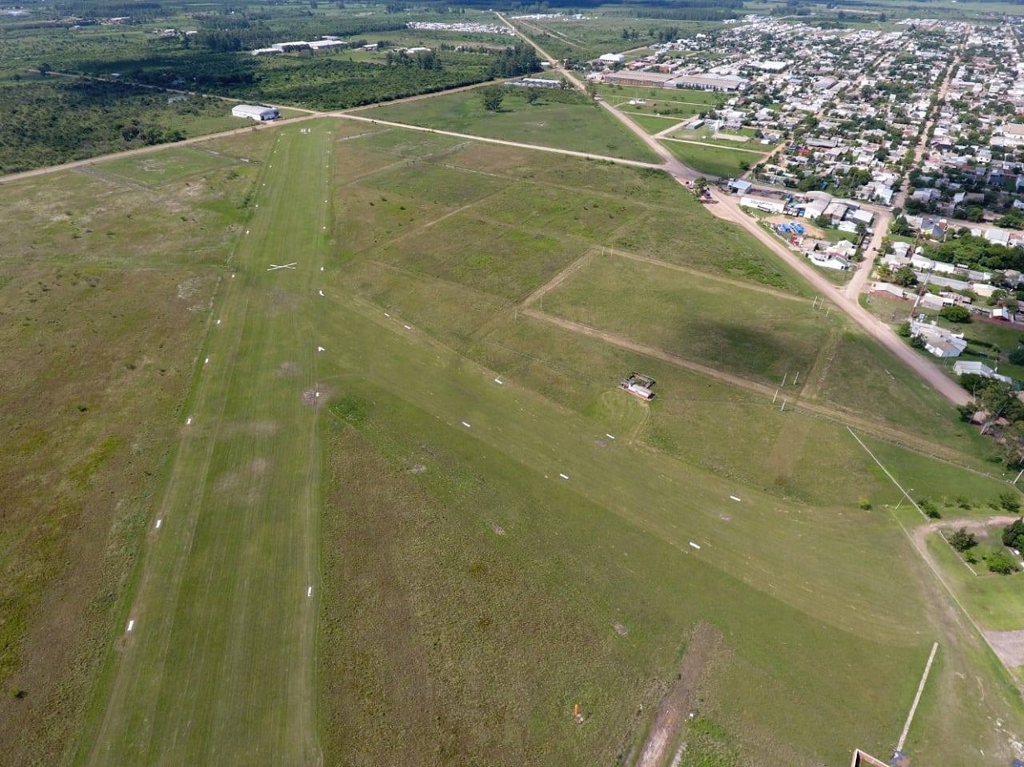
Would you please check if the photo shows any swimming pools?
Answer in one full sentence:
No, the picture doesn't show any swimming pool.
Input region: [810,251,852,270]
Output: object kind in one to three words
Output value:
house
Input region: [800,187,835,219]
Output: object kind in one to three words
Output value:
barn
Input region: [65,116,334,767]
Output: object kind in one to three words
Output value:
runway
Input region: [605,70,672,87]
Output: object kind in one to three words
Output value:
building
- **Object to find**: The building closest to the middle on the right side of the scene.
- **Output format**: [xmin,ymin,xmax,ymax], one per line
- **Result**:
[620,371,660,400]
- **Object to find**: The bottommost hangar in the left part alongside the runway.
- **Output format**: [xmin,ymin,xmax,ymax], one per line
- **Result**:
[231,103,275,120]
